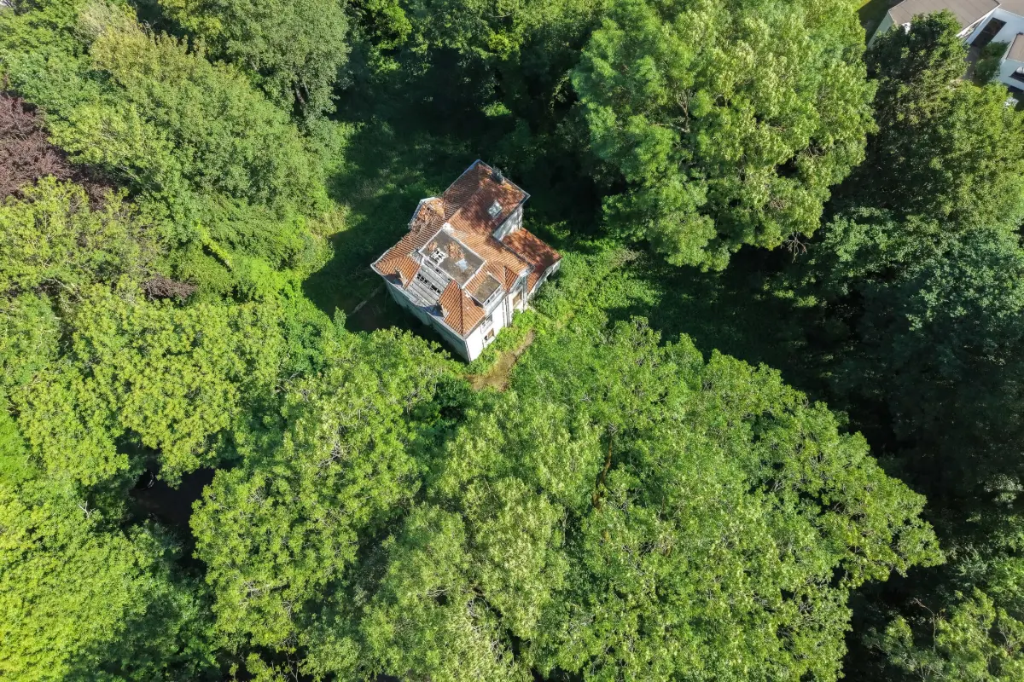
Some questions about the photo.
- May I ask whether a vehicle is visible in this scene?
No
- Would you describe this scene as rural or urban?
rural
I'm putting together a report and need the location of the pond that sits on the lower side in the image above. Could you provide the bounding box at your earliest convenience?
[136,465,223,553]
